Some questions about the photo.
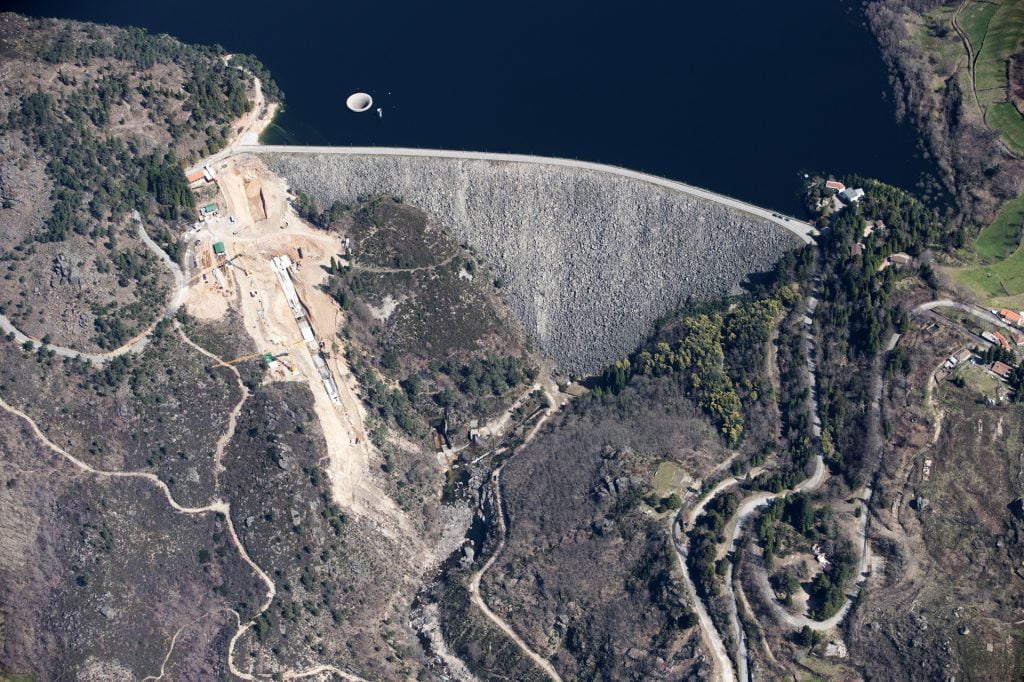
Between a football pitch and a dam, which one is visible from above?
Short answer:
dam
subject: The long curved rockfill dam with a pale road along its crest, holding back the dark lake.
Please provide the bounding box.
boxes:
[238,145,820,381]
